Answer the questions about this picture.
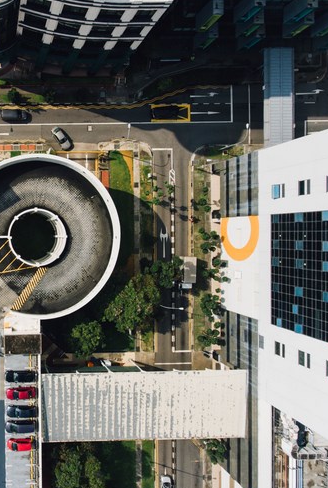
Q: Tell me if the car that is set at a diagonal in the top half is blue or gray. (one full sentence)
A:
The color of the car that is set at a diagonal in the top half is gray.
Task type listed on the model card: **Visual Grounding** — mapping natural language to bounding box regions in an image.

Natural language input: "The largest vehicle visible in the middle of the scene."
[177,256,197,290]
